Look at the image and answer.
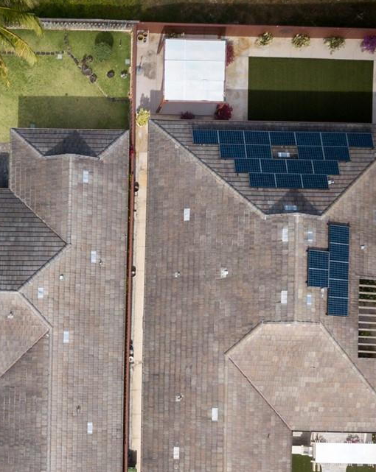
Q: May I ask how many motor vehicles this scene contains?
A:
zero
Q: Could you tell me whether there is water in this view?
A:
No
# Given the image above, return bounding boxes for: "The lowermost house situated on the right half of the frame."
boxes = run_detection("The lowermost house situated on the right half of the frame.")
[141,119,376,472]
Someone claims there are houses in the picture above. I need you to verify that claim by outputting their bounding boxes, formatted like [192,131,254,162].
[141,119,376,472]
[0,127,131,472]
